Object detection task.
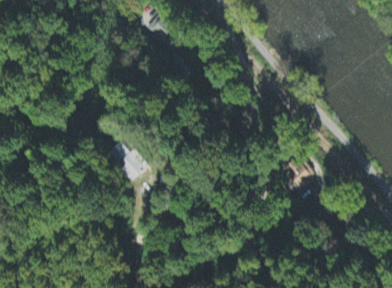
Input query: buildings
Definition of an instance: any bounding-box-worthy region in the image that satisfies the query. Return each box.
[284,159,314,186]
[114,151,150,182]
